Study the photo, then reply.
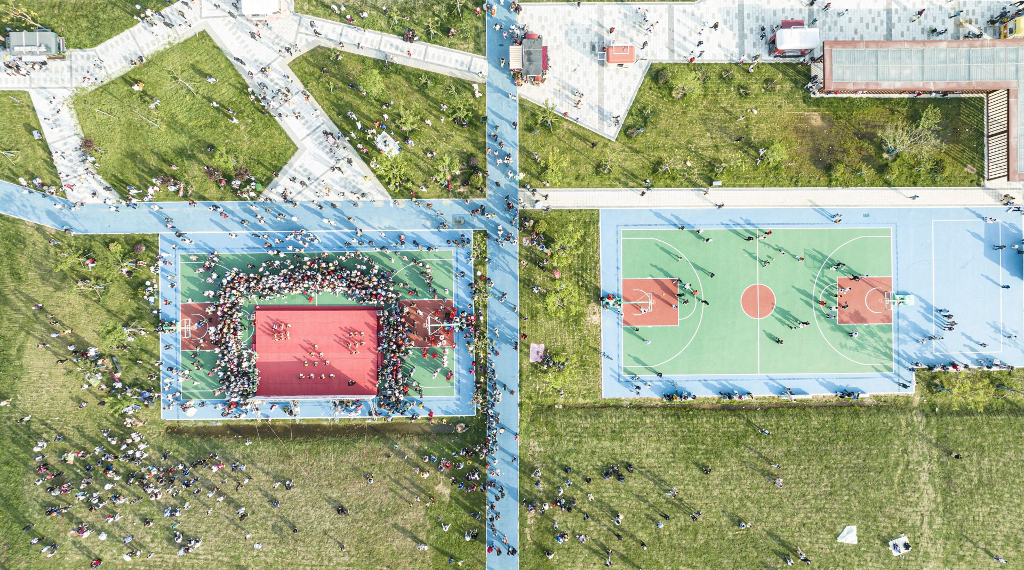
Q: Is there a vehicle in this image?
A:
Yes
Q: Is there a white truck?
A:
Yes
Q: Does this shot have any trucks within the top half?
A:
Yes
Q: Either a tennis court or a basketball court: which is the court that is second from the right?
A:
basketball court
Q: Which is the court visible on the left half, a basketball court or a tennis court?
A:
basketball court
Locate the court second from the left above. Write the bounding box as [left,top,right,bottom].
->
[600,206,916,398]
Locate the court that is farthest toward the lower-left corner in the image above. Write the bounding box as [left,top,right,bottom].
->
[159,229,476,420]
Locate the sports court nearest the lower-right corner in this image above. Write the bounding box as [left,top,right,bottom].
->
[915,206,1024,369]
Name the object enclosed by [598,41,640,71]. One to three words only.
camper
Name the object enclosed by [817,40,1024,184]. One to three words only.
building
